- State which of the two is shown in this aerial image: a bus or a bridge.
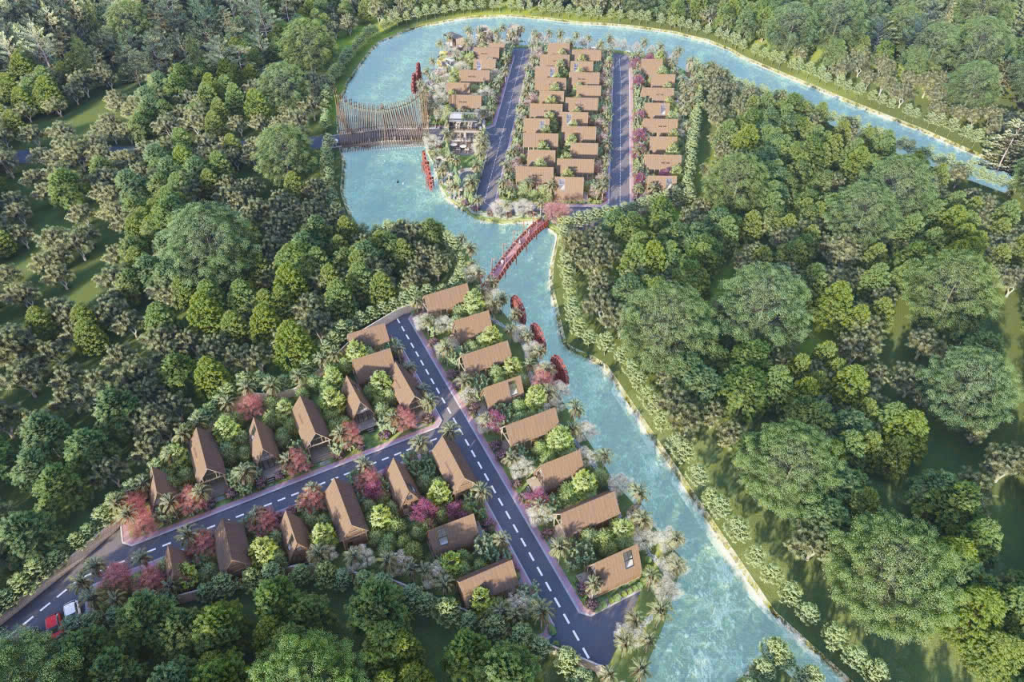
bridge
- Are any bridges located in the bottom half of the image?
No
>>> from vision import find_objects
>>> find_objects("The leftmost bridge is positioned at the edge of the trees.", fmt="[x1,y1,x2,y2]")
[325,86,428,148]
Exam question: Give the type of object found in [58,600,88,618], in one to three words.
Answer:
car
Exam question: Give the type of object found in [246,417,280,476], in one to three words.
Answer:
house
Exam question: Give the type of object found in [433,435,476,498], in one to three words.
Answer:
house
